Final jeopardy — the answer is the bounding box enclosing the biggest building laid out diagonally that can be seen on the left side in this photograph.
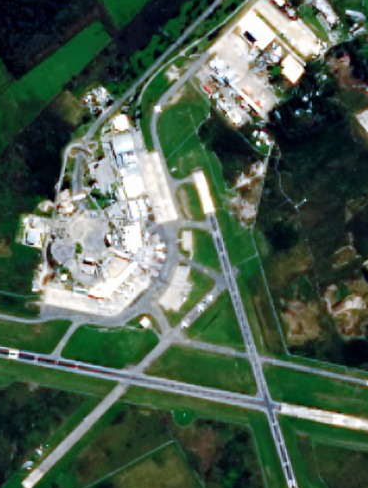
[86,260,139,299]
